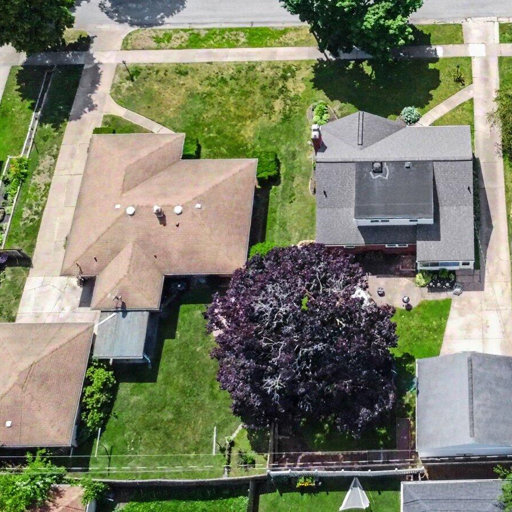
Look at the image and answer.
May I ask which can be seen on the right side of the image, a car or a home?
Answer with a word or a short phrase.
home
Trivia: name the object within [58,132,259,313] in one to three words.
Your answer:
house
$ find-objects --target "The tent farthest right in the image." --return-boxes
[338,475,370,512]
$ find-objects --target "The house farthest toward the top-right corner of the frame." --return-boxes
[310,110,475,271]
